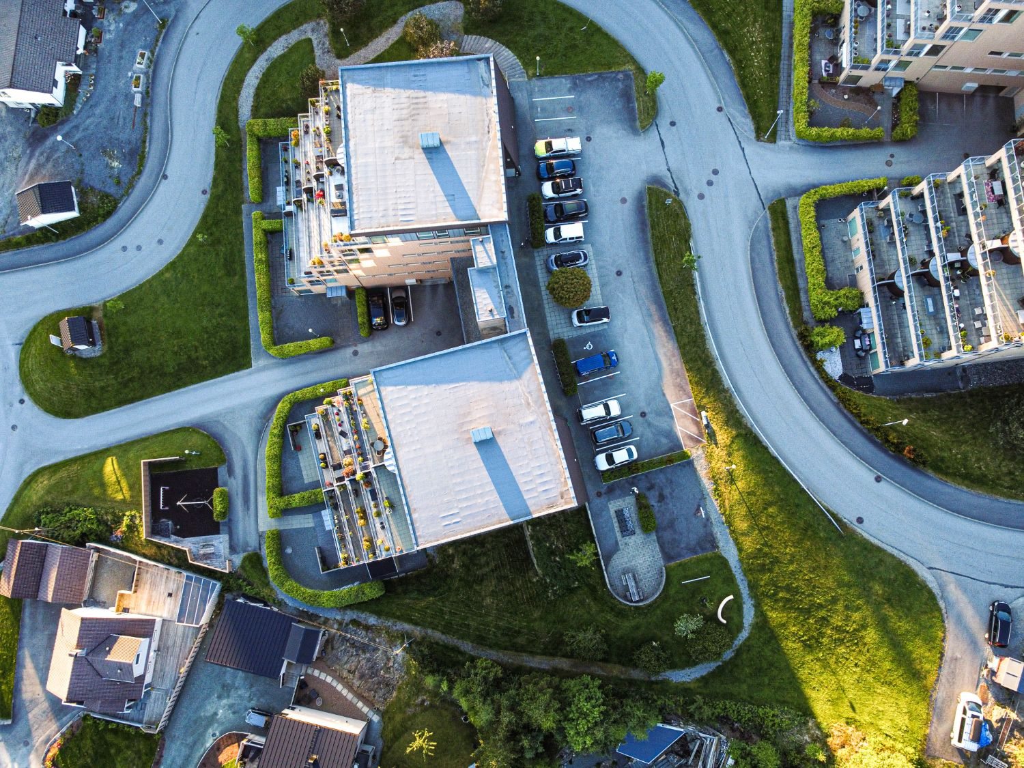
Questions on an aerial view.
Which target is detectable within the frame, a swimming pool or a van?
van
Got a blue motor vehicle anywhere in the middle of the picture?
Yes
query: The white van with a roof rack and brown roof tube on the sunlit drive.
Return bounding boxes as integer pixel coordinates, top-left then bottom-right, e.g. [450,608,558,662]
[951,691,985,751]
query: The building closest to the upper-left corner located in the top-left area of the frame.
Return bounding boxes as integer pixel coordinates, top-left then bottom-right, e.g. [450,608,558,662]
[2,0,94,117]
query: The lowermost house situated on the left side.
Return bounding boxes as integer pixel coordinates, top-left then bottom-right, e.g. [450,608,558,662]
[233,702,381,768]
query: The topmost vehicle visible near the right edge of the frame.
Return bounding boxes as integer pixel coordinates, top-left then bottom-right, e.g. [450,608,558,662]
[987,599,1015,648]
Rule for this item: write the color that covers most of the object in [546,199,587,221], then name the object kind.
blue car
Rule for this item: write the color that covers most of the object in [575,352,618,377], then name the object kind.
blue vehicle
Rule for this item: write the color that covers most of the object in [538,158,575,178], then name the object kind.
blue car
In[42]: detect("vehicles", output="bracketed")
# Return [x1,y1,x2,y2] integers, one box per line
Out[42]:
[548,250,588,270]
[951,691,985,751]
[575,352,618,377]
[543,177,582,198]
[595,446,638,469]
[573,306,610,325]
[578,399,621,422]
[538,158,575,178]
[591,422,633,444]
[546,222,584,243]
[987,599,1015,648]
[536,135,581,158]
[546,199,587,221]
[368,291,388,330]
[389,287,409,326]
